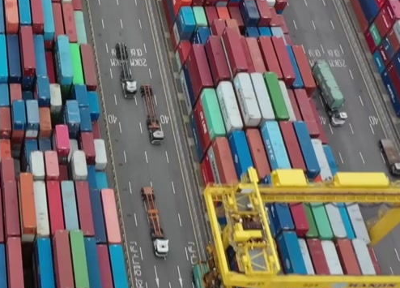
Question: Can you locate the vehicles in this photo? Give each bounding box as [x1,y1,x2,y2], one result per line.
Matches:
[381,134,400,174]
[142,86,166,144]
[323,92,348,125]
[116,44,139,97]
[145,189,173,257]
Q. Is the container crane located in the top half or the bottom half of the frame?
bottom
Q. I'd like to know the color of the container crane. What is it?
yellow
